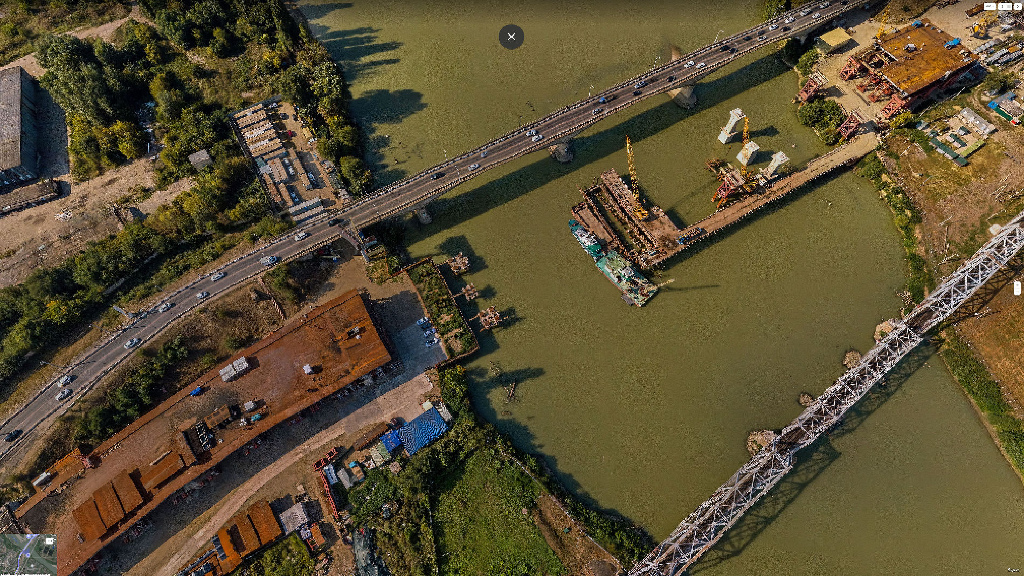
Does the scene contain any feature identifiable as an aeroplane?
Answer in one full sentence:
No, the scene contains no aeroplane.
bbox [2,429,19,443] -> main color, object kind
black car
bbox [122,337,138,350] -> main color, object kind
white vehicle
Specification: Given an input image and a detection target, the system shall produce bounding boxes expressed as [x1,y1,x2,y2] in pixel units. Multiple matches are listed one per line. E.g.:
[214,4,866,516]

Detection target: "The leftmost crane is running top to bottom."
[621,135,655,225]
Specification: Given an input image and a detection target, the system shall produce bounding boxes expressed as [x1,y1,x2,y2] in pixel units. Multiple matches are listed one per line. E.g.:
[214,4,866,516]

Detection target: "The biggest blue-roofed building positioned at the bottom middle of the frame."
[396,405,451,457]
